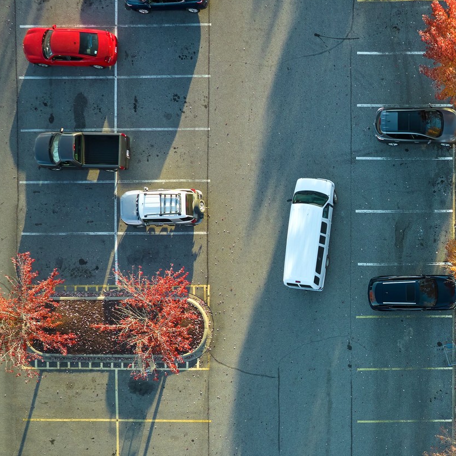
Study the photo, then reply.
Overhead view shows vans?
Yes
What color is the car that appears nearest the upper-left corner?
red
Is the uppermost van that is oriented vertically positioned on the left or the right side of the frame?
right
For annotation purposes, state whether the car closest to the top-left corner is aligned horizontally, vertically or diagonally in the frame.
horizontally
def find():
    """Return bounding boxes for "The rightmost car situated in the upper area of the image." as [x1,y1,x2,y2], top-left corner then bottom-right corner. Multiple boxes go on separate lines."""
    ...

[374,101,456,147]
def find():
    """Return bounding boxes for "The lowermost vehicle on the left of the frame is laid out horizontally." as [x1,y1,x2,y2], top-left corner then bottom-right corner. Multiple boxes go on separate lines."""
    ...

[118,184,210,229]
